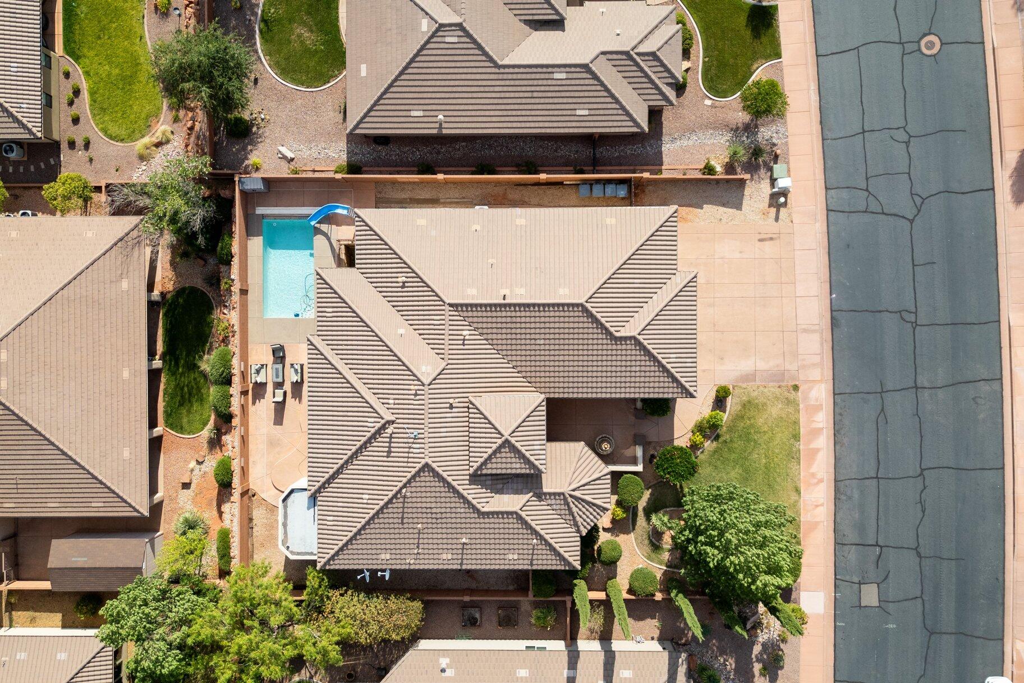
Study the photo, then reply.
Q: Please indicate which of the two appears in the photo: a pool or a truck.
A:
pool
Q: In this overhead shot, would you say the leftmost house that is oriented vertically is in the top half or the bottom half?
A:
top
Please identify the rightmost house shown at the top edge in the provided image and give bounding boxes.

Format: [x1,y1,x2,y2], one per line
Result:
[344,0,684,137]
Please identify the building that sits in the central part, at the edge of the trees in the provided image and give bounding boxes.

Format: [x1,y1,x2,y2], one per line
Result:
[279,205,700,572]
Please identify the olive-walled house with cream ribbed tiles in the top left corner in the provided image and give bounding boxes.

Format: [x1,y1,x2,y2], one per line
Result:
[0,0,59,141]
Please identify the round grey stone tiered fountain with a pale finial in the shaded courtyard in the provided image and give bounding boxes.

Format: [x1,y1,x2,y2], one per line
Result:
[593,436,614,457]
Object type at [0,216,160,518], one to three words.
house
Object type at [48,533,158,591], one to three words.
shed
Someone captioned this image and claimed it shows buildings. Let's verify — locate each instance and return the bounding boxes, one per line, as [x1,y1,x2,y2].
[0,216,160,518]
[378,639,690,683]
[0,0,59,141]
[48,533,158,591]
[279,205,700,572]
[344,0,684,137]
[0,627,122,683]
